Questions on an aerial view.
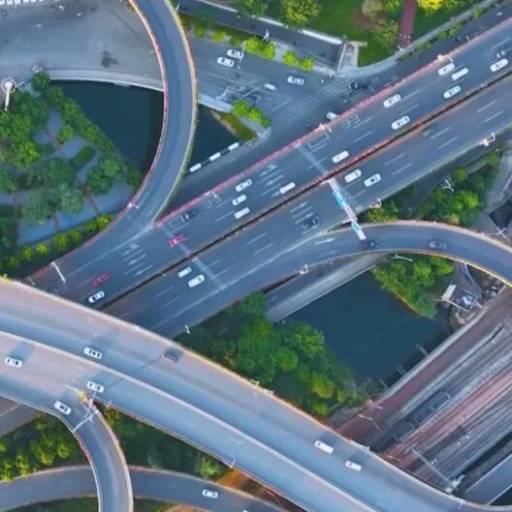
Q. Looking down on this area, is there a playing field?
No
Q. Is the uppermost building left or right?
right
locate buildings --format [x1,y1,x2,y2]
[440,283,476,313]
[480,193,512,243]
